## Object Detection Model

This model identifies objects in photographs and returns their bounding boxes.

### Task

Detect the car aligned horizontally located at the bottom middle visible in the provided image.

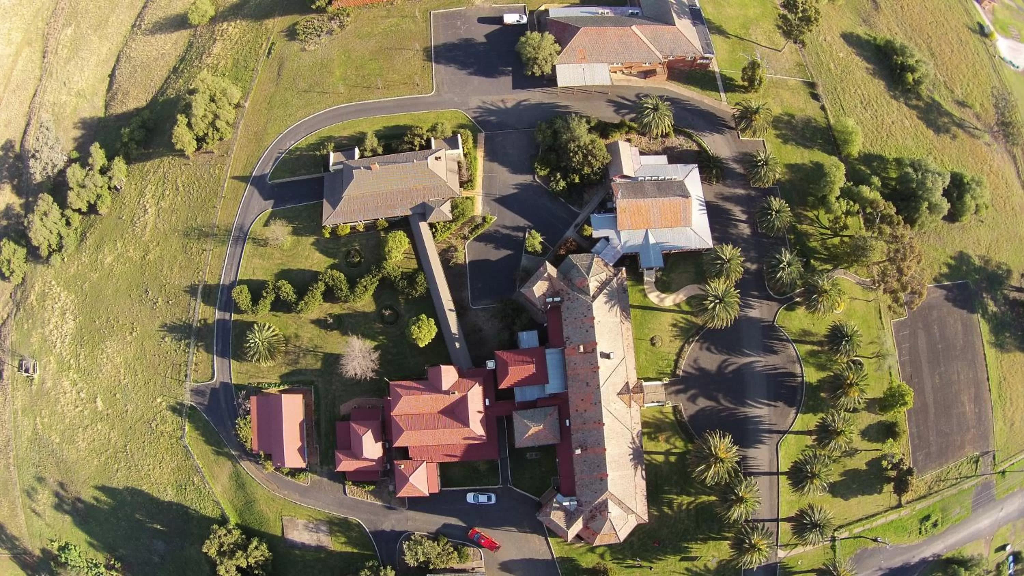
[466,493,495,506]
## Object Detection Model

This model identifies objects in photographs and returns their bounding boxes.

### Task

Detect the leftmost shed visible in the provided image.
[250,394,311,468]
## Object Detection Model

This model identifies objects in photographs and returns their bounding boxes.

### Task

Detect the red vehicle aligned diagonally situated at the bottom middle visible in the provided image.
[468,528,501,558]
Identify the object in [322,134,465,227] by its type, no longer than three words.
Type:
house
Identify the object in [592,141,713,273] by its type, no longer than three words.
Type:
building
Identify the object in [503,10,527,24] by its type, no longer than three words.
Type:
vehicle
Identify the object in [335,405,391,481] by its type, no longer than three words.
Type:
house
